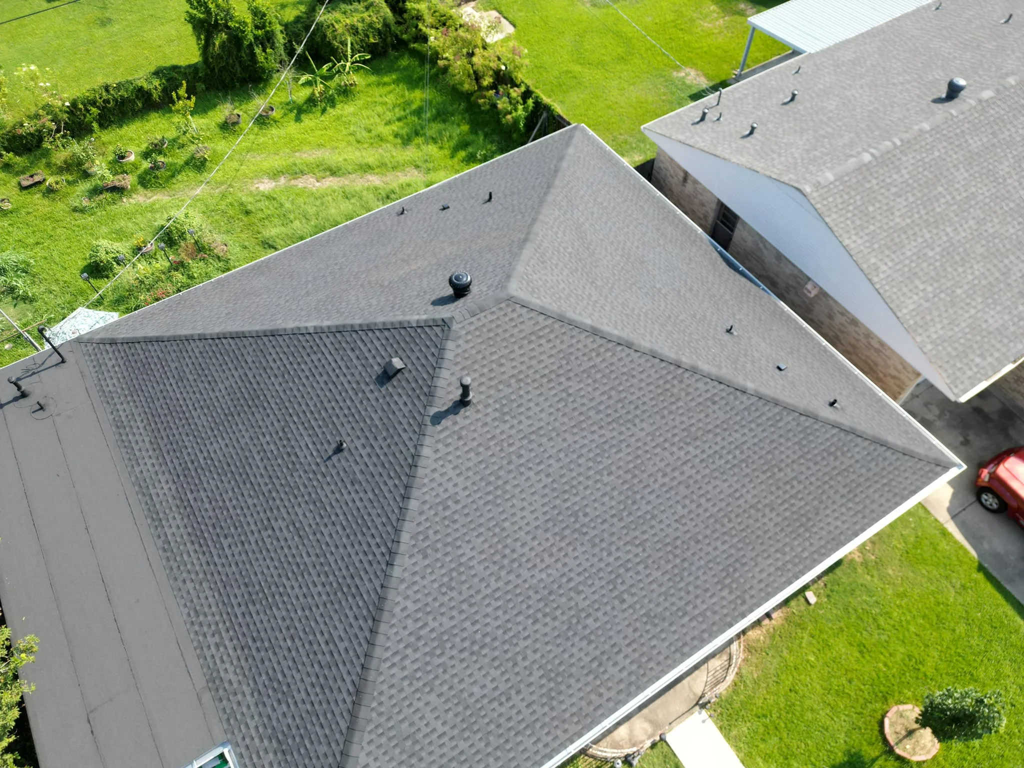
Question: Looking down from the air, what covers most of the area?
buildings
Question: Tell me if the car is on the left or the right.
right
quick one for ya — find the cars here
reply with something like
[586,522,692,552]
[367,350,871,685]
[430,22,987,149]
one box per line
[973,437,1024,534]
